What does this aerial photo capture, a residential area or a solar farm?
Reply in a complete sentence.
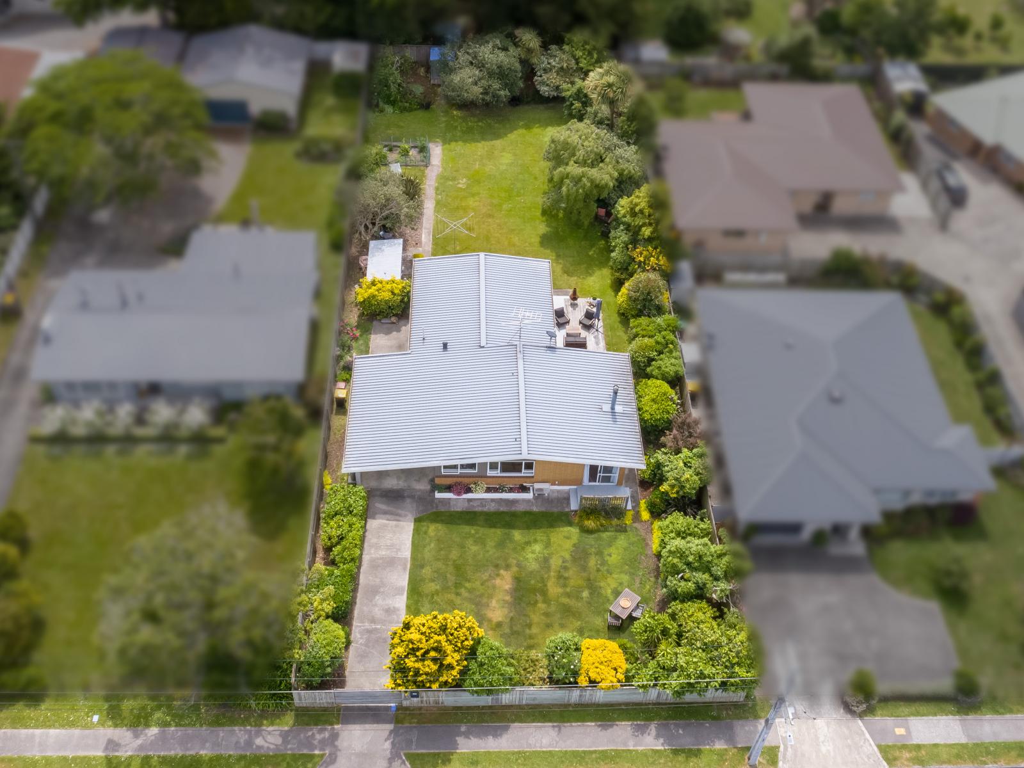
The picture captures a residential area.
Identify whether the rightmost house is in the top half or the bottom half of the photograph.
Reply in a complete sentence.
The rightmost house sits in the top half of the picture.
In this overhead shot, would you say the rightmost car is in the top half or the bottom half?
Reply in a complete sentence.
You can find the rightmost car in the top half.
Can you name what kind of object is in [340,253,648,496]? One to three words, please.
house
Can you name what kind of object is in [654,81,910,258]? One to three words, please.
house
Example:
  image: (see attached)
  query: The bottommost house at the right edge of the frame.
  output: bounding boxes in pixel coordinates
[693,288,1001,555]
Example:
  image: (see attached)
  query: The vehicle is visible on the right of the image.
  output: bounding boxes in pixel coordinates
[924,159,974,201]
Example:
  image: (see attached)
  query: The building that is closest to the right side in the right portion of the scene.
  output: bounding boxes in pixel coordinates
[927,64,1024,191]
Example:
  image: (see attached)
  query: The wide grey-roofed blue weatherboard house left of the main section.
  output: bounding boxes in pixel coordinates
[26,215,321,420]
